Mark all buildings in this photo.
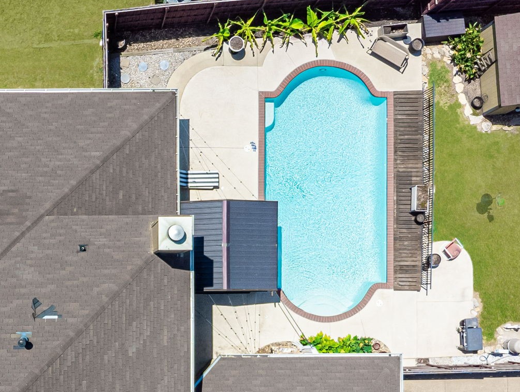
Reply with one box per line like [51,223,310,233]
[0,88,406,392]
[478,12,520,114]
